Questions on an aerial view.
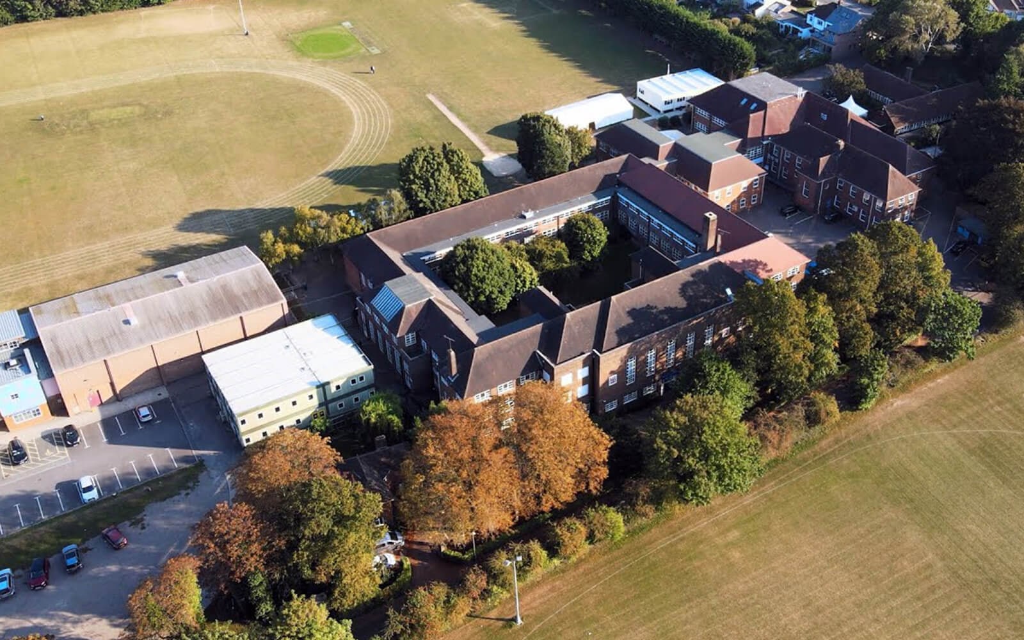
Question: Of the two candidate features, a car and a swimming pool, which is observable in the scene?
car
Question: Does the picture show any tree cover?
Yes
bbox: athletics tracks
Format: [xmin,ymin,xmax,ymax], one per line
[0,60,390,293]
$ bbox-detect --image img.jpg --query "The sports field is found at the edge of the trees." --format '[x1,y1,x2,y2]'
[454,323,1024,640]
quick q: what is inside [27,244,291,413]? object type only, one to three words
building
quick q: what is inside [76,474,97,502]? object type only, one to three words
car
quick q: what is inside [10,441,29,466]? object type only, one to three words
car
